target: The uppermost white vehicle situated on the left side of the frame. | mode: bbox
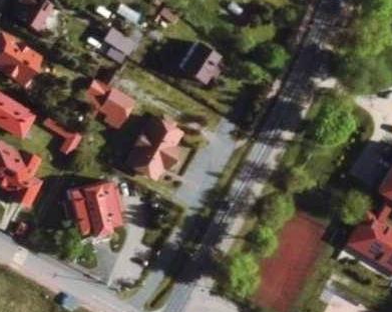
[97,6,111,19]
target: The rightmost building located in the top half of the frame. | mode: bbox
[181,44,223,84]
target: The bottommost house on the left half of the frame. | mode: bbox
[58,182,124,247]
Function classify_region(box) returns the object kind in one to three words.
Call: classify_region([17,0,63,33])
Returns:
house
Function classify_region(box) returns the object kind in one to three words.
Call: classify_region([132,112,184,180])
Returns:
house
